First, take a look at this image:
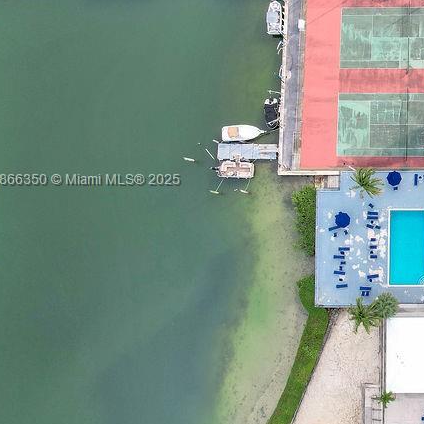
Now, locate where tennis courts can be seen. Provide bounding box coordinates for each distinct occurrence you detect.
[304,0,424,82]
[300,82,424,169]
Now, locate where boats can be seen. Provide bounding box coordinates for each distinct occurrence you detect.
[222,125,265,141]
[214,161,254,178]
[267,1,282,36]
[264,98,278,127]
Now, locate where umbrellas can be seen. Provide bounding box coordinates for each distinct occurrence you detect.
[386,171,402,186]
[335,212,351,228]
